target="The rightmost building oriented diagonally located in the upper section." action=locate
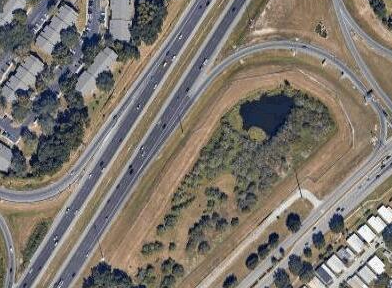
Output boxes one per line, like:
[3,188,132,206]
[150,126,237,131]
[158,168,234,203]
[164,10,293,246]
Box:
[77,52,115,98]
